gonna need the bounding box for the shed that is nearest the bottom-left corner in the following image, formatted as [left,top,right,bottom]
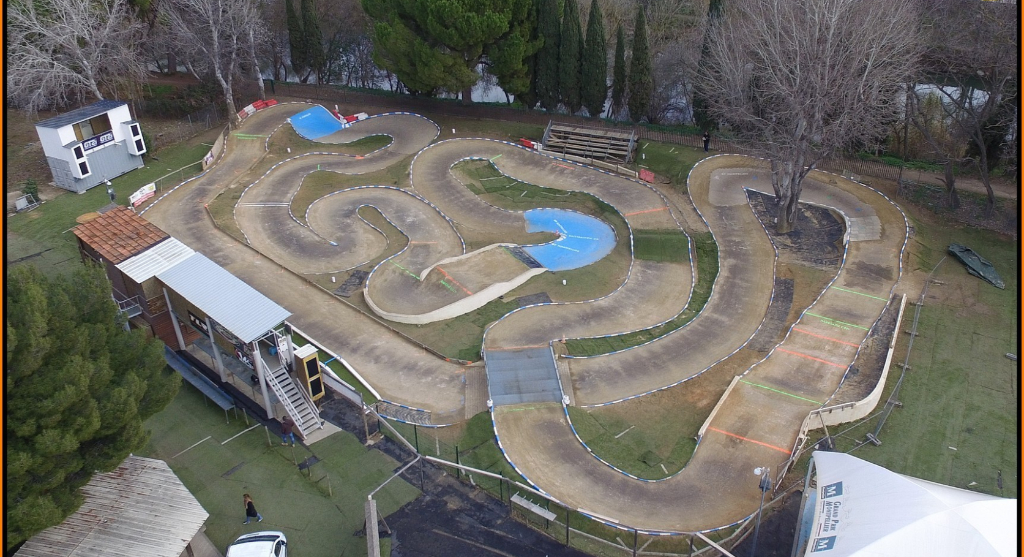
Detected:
[28,454,215,557]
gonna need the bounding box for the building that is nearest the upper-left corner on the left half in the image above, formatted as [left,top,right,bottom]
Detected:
[25,104,146,195]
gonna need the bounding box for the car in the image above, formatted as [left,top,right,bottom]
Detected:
[234,530,294,557]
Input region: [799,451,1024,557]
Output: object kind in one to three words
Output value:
tent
